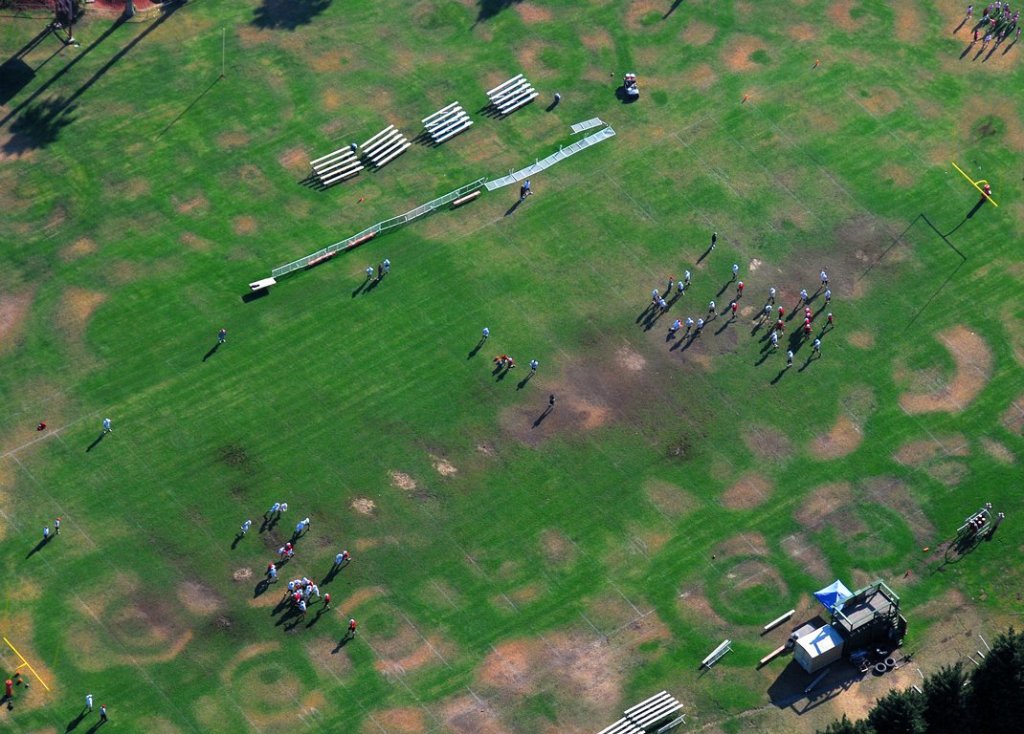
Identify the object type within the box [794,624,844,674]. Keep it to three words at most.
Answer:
shed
